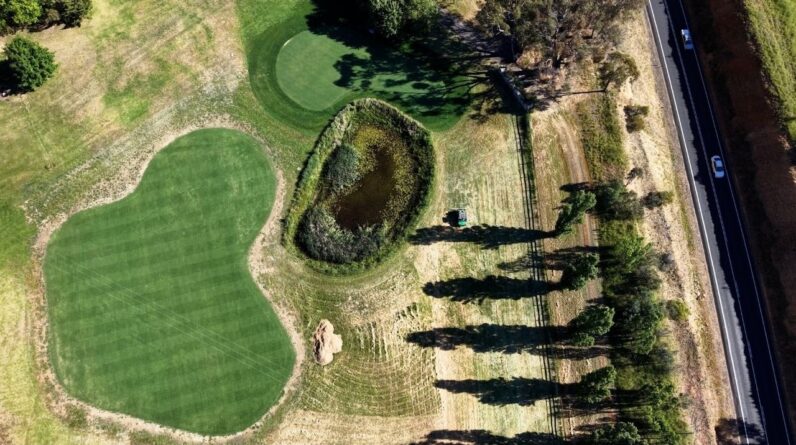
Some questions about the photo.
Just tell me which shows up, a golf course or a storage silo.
golf course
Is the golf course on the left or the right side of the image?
left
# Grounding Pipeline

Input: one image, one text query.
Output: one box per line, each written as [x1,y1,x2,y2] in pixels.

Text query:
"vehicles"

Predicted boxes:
[455,208,466,229]
[709,156,724,179]
[680,30,693,49]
